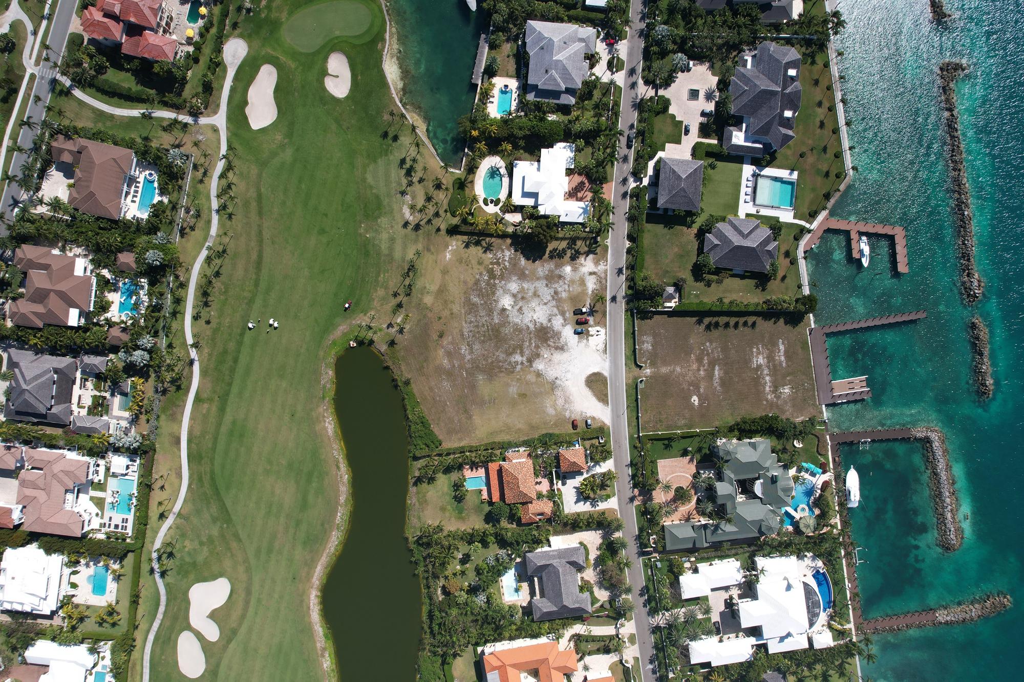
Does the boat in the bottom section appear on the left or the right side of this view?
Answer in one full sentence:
The boat in the bottom section sits on the right side.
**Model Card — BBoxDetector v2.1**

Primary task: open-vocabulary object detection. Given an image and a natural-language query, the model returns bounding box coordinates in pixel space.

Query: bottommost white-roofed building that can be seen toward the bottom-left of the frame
[24,637,100,682]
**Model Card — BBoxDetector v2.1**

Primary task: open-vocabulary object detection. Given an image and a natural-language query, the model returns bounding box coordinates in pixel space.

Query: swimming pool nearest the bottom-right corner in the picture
[812,569,833,613]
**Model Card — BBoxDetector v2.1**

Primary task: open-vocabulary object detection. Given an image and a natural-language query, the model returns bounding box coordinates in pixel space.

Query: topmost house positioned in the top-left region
[80,0,187,64]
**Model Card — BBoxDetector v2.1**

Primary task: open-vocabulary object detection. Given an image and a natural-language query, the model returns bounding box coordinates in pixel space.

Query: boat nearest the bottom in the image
[845,457,867,513]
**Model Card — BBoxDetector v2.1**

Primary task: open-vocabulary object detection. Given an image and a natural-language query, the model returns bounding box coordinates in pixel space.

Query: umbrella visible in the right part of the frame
[799,516,816,532]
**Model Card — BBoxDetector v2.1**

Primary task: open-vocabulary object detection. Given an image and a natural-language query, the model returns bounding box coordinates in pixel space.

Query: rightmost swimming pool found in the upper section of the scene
[753,176,798,209]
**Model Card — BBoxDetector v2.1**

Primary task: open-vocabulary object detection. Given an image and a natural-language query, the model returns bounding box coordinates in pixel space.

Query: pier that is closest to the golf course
[472,34,488,84]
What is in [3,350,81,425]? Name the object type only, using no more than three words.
house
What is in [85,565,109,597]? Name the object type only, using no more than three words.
swimming pool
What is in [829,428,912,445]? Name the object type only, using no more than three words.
pier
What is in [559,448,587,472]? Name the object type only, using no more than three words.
building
